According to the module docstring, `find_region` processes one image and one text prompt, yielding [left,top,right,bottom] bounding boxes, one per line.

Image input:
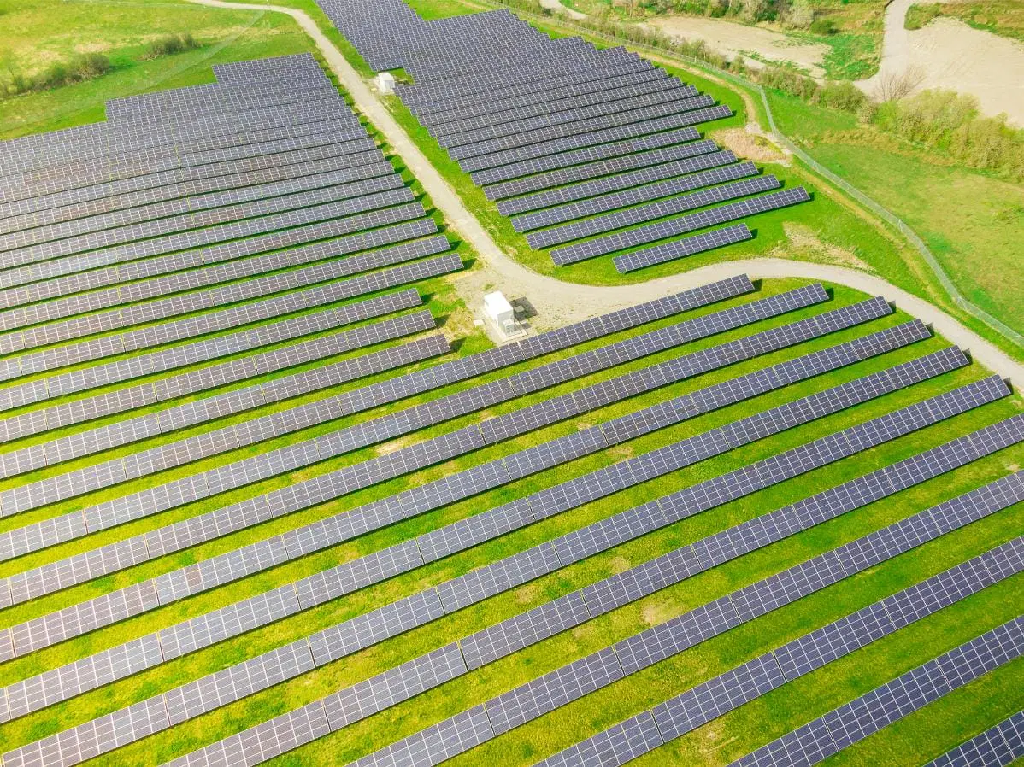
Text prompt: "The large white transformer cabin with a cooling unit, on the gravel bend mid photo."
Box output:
[482,291,520,333]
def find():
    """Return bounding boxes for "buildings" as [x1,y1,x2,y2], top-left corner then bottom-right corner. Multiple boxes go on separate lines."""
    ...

[378,72,396,92]
[482,291,520,333]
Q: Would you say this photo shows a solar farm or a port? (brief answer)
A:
solar farm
